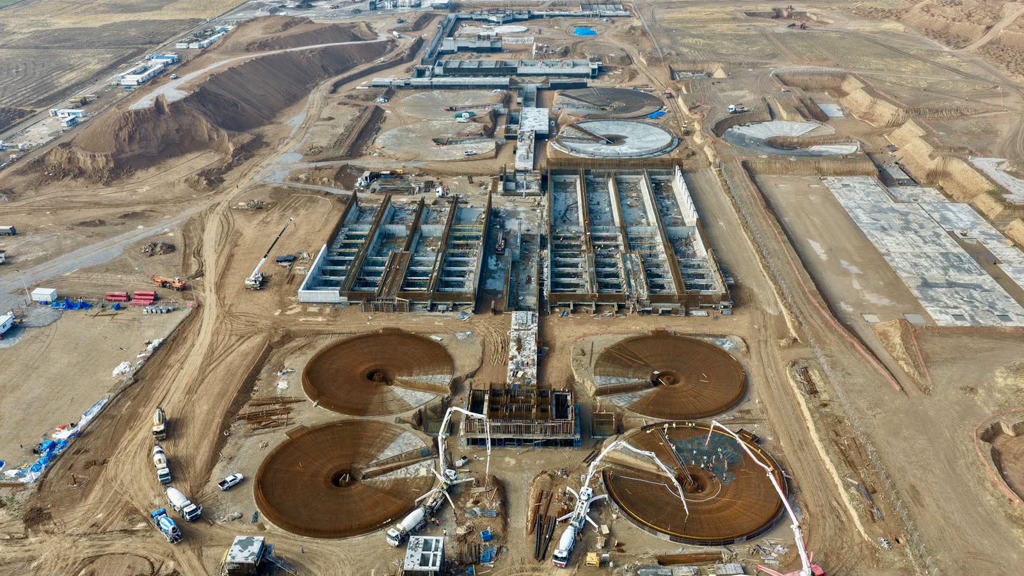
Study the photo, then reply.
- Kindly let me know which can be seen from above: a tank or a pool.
tank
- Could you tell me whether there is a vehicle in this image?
Yes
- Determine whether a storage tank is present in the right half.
Yes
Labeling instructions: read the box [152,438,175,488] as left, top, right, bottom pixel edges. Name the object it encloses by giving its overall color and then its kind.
white truck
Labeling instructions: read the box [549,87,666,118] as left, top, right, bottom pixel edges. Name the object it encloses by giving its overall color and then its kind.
gray storage tank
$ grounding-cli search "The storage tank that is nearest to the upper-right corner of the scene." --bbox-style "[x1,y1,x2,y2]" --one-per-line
[722,121,845,154]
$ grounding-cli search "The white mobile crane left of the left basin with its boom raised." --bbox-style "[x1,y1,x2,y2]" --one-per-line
[237,220,296,295]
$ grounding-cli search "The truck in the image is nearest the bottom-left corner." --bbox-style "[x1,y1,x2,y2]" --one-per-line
[146,501,183,548]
